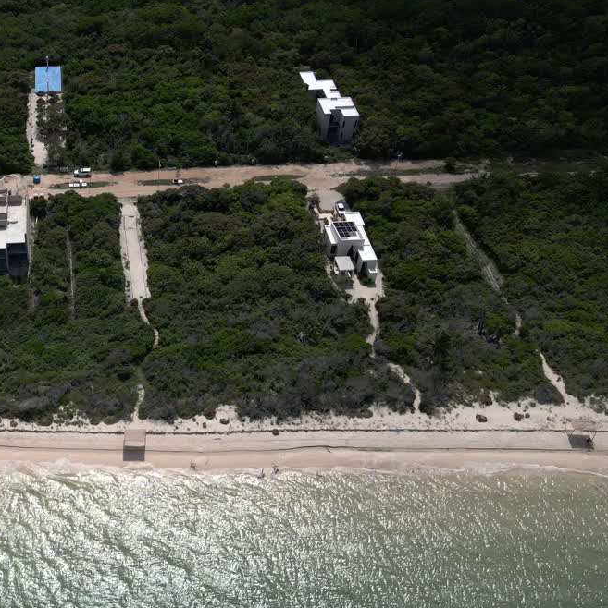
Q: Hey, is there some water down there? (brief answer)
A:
Yes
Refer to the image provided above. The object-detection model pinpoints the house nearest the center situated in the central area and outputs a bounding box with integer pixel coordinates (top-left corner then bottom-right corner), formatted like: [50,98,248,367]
[319,212,378,282]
